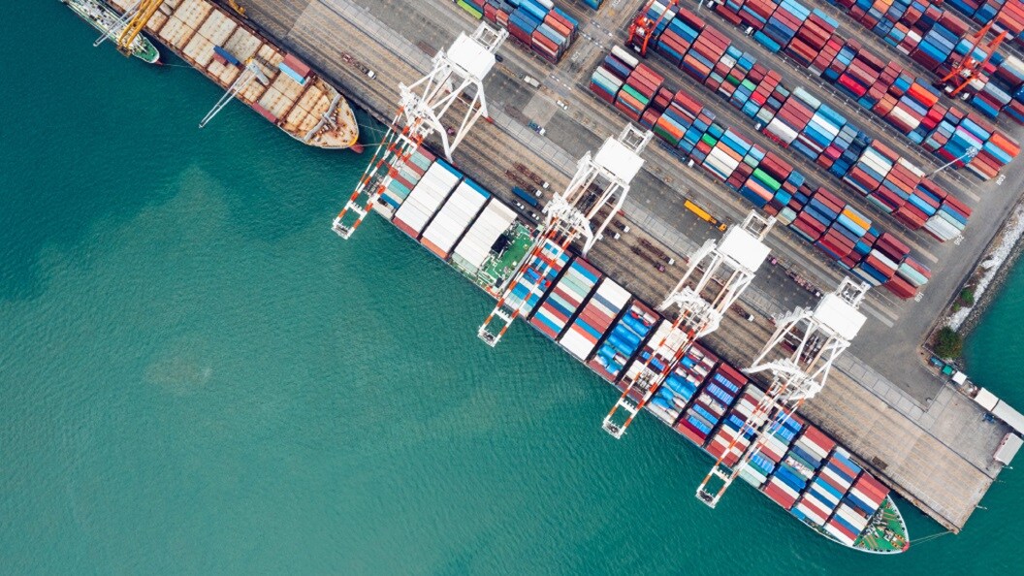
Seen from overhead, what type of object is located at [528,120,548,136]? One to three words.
vehicle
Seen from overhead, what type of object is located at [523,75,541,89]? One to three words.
vehicle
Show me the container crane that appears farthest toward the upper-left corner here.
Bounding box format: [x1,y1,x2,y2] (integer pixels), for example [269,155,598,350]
[113,0,176,57]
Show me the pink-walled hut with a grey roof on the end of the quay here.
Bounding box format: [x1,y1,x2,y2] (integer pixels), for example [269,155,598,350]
[990,432,1024,466]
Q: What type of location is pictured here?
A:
port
